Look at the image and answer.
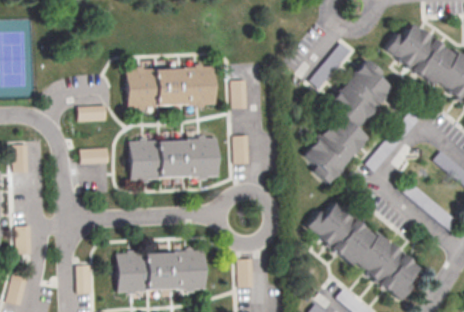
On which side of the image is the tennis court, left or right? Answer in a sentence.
It is on the left.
